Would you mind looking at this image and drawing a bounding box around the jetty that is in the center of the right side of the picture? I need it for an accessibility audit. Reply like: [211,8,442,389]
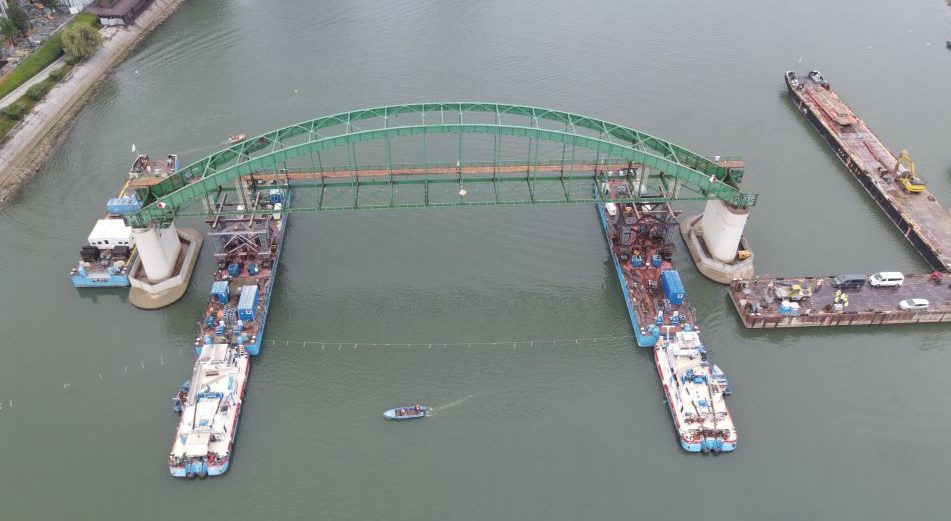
[723,272,951,328]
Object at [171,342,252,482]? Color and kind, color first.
white boat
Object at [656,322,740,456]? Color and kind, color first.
white boat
